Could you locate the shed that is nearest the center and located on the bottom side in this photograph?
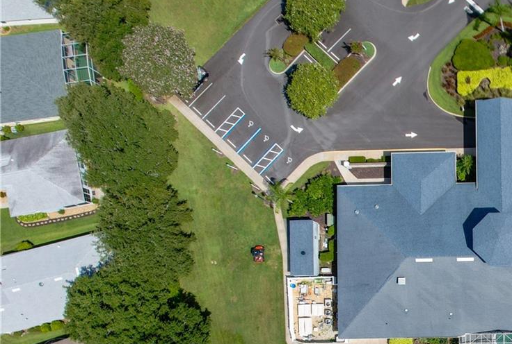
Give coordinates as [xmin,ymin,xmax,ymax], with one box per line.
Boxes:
[289,219,322,276]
